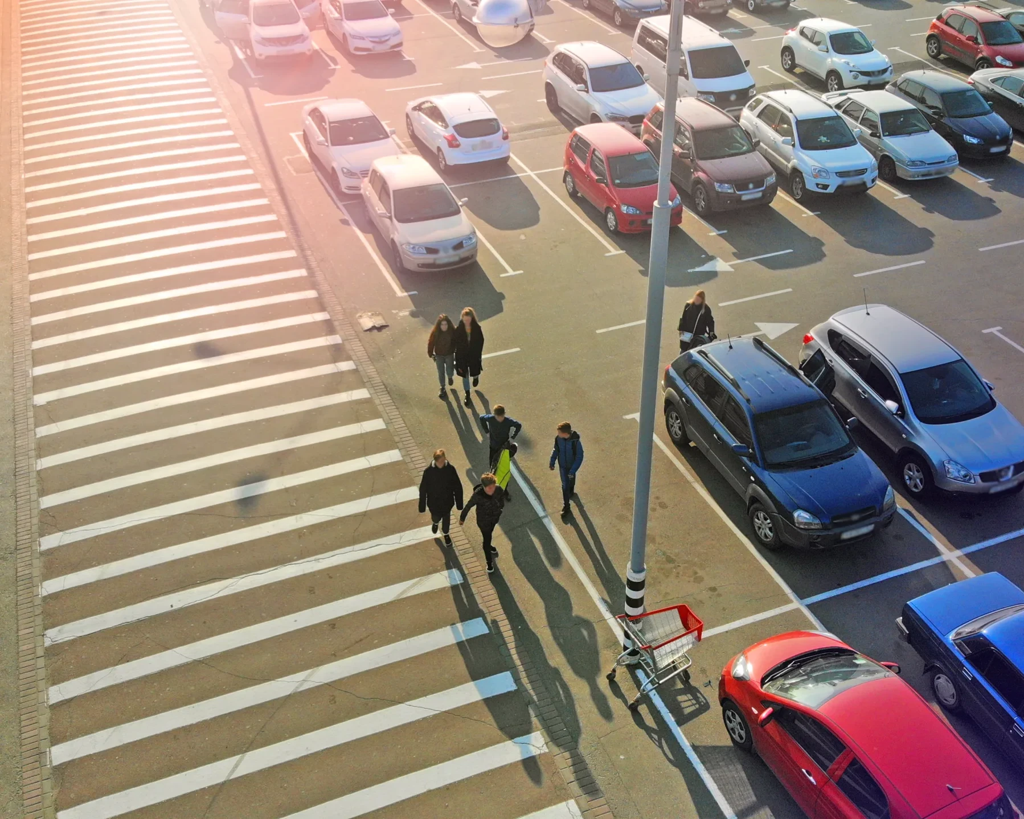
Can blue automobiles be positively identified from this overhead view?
Yes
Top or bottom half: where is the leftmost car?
top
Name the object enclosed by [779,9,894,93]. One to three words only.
car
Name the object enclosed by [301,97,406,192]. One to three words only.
car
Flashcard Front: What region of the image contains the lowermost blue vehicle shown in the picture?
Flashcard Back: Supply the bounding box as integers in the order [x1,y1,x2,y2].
[892,570,1024,770]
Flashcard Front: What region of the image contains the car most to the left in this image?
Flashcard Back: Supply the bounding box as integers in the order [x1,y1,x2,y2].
[215,0,337,64]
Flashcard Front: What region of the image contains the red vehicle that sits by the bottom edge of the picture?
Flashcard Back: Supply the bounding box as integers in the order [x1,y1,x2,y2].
[721,630,1014,819]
